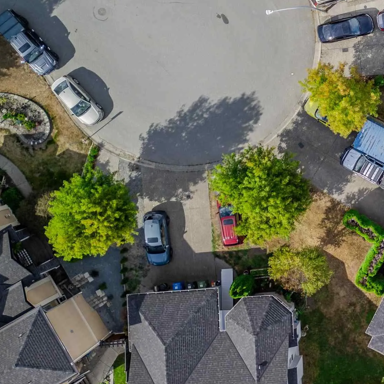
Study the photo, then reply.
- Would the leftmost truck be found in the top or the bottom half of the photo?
top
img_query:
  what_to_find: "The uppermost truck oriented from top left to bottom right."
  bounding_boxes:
[0,6,56,75]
